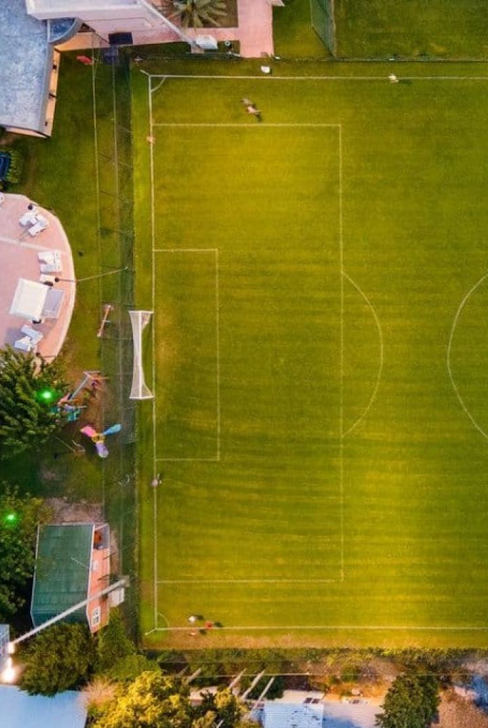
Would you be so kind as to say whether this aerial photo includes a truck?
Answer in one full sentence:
No, the picture doesn't show any truck.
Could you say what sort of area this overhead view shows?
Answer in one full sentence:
What you see here is a sports ground.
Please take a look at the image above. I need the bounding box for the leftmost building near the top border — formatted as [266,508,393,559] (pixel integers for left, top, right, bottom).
[0,0,99,137]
